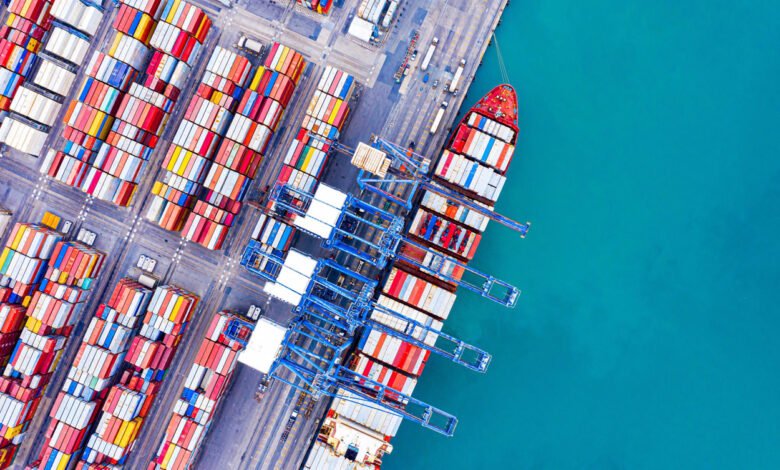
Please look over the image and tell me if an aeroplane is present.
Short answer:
No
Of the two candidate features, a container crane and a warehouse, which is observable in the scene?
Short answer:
container crane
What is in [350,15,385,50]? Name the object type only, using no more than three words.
shed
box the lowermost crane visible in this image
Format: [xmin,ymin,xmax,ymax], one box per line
[209,312,463,438]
